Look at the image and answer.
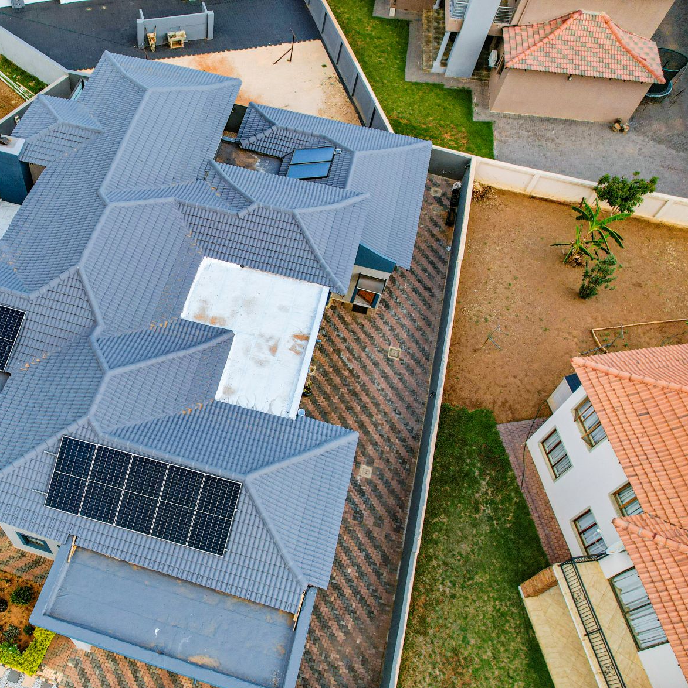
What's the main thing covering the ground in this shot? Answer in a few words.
buildings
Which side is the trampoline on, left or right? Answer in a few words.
right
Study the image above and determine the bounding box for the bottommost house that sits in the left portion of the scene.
[0,48,436,688]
